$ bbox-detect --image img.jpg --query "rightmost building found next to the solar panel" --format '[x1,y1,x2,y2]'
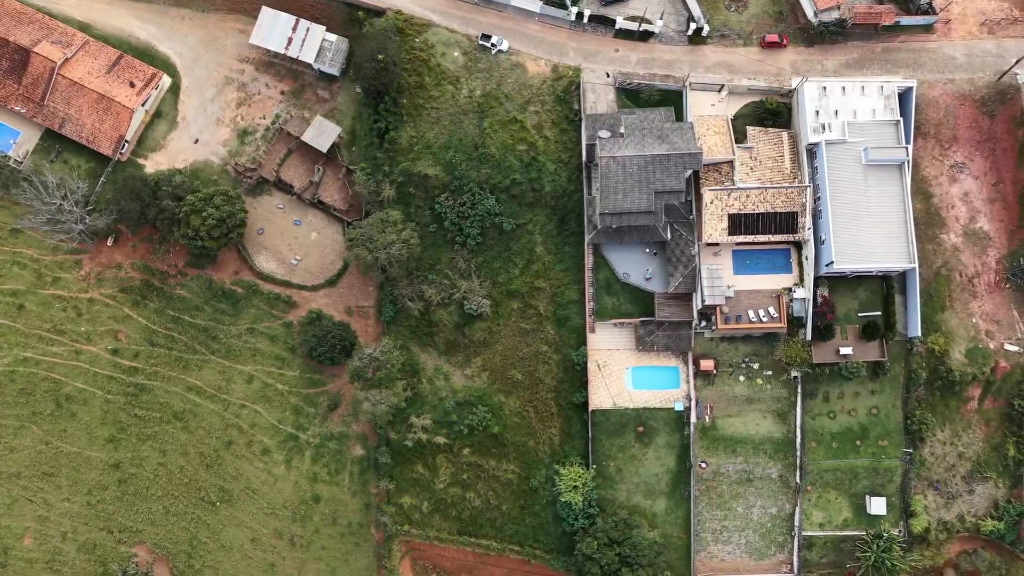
[792,78,916,279]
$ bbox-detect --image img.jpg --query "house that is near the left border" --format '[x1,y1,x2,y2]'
[0,0,172,159]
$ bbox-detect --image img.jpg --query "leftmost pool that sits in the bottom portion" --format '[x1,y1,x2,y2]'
[626,364,682,391]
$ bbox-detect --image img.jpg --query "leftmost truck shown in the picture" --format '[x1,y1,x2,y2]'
[476,30,509,54]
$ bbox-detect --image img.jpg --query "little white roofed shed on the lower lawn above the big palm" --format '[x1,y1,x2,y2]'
[860,493,887,515]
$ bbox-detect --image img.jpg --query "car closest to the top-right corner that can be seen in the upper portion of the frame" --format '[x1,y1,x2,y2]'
[762,33,790,48]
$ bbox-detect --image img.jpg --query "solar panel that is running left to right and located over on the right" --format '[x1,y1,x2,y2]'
[728,211,799,236]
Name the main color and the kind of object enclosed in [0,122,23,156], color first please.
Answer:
blue swimming pool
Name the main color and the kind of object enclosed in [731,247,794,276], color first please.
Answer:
blue swimming pool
